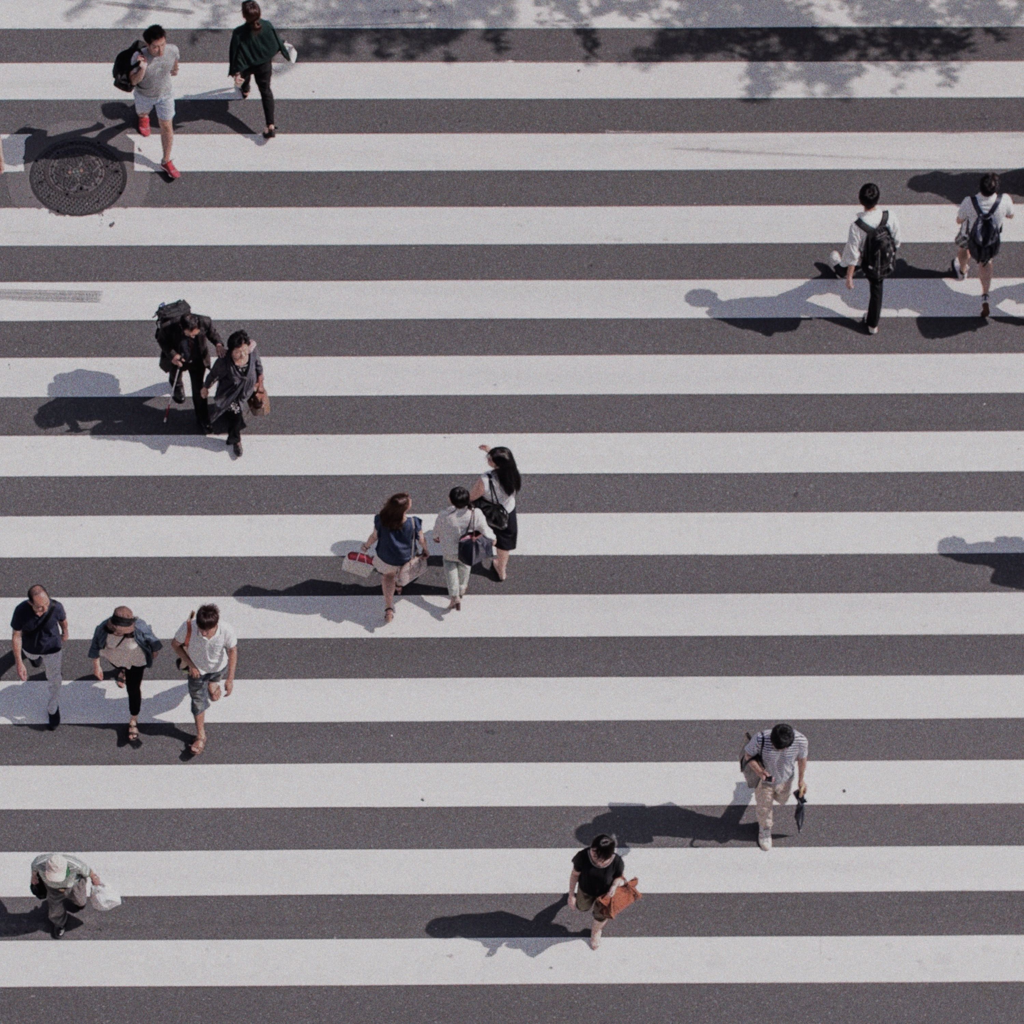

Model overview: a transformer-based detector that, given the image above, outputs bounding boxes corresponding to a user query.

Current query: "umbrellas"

[792,790,811,832]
